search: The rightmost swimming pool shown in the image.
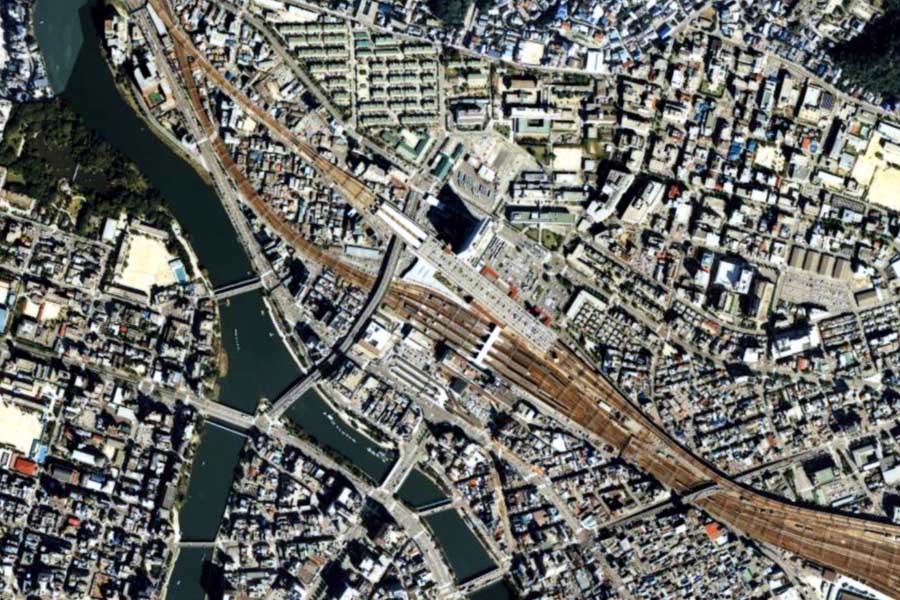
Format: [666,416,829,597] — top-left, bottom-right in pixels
[170,259,188,285]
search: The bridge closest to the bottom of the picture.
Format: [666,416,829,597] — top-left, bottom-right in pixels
[446,563,510,597]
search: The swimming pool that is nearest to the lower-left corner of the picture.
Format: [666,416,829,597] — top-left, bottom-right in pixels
[30,442,47,463]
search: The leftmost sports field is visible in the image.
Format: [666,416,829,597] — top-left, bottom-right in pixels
[0,401,42,457]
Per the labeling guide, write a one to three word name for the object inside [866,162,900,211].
sports field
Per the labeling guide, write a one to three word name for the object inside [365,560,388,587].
building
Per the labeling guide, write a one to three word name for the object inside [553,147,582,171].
sports field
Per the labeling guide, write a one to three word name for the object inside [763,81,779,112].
building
